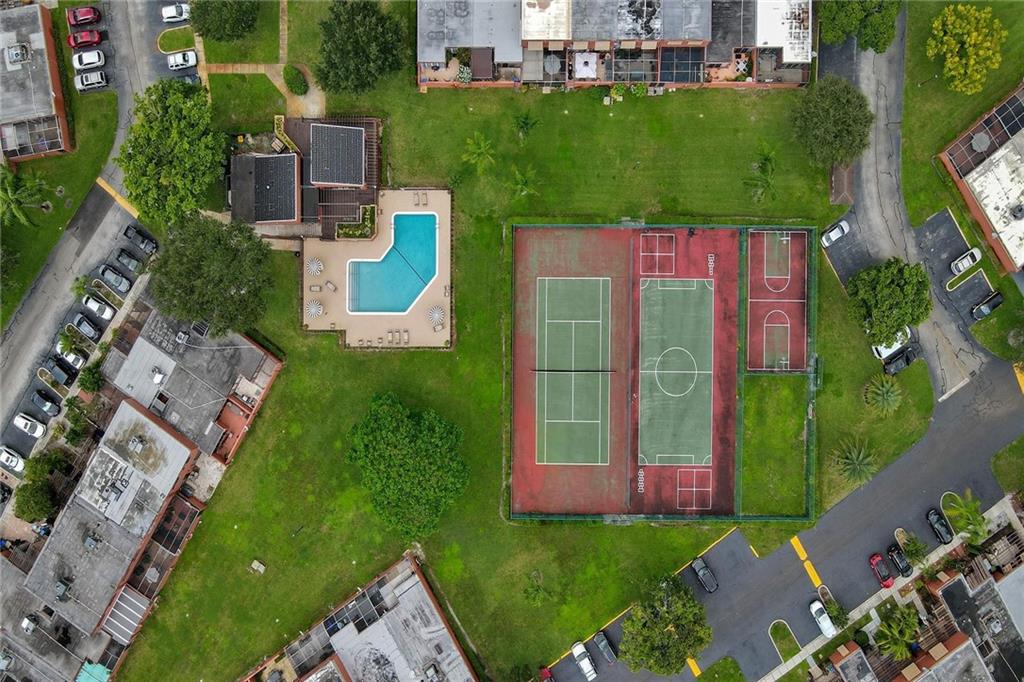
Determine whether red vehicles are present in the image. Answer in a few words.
Yes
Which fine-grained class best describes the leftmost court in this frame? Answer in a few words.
tennis court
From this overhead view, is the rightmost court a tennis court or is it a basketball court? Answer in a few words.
basketball court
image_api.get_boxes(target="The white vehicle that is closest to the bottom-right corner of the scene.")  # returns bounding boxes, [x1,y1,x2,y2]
[810,599,837,638]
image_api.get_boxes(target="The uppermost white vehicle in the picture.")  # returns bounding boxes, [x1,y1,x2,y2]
[159,2,194,24]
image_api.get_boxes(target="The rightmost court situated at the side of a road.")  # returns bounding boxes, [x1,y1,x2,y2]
[745,226,815,374]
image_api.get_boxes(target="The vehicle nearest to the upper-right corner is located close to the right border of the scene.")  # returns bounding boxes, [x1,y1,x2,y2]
[949,247,981,274]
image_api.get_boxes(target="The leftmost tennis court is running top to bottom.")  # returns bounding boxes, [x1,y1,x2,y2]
[511,227,632,515]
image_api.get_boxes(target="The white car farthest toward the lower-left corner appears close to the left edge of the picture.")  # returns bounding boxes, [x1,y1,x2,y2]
[0,445,27,473]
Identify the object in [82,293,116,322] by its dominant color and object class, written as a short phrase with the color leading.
white car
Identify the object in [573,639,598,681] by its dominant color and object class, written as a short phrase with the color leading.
white car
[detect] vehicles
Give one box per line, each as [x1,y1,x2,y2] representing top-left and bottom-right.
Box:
[170,68,204,88]
[594,630,618,664]
[886,543,913,578]
[573,639,598,681]
[115,246,147,276]
[73,70,109,91]
[869,553,894,587]
[98,263,132,294]
[121,222,158,255]
[82,293,116,322]
[925,508,954,544]
[72,50,107,70]
[0,445,27,473]
[810,599,837,638]
[882,347,918,376]
[0,483,15,507]
[54,343,87,371]
[68,31,103,50]
[869,334,908,361]
[14,411,48,439]
[949,247,981,274]
[40,355,77,390]
[692,557,720,594]
[67,5,103,27]
[30,388,63,418]
[159,2,194,24]
[71,311,104,342]
[165,50,200,72]
[818,220,850,248]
